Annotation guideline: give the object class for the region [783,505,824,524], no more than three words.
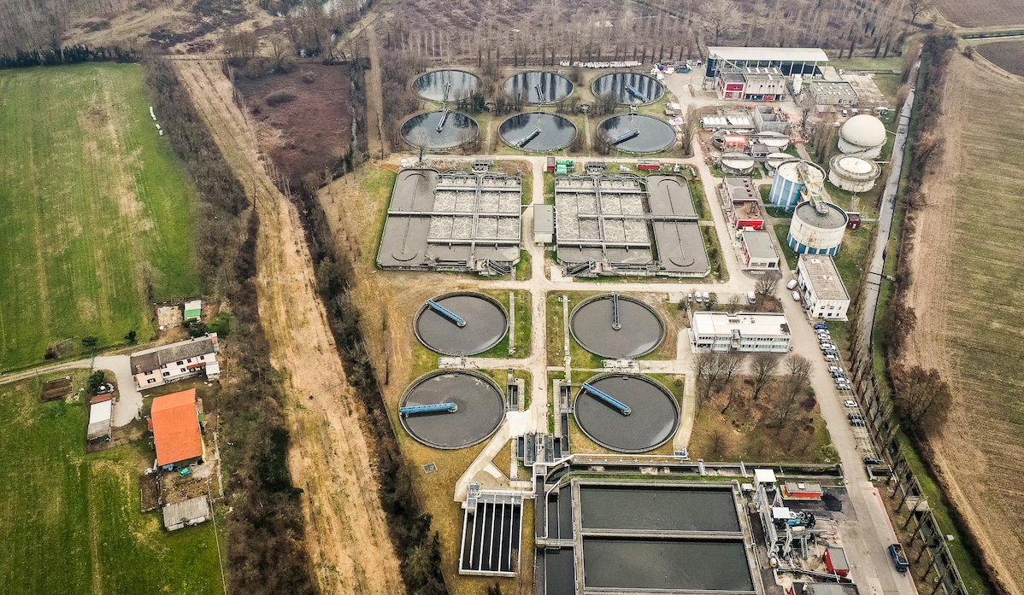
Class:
vehicle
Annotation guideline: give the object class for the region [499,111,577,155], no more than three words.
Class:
storage tank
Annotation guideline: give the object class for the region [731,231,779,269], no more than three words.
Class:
building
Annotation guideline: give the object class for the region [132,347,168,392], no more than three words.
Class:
house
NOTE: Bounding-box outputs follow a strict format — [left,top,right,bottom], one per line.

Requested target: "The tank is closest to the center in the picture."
[413,291,509,362]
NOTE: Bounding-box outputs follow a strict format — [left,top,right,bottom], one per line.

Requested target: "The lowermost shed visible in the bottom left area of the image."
[164,496,210,535]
